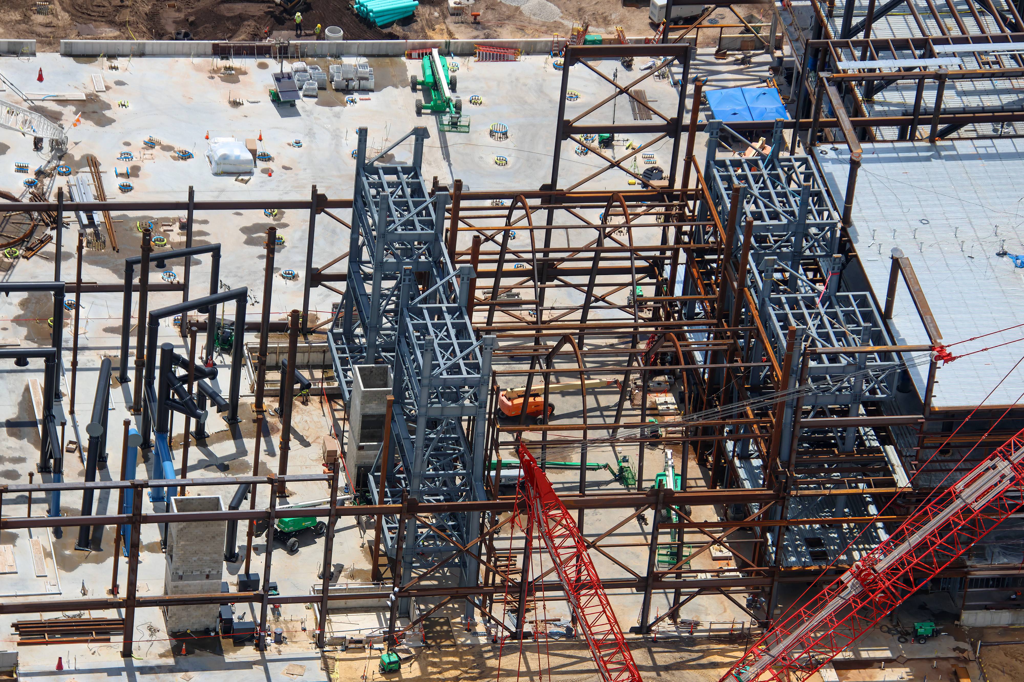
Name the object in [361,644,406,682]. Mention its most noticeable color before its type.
green trailer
